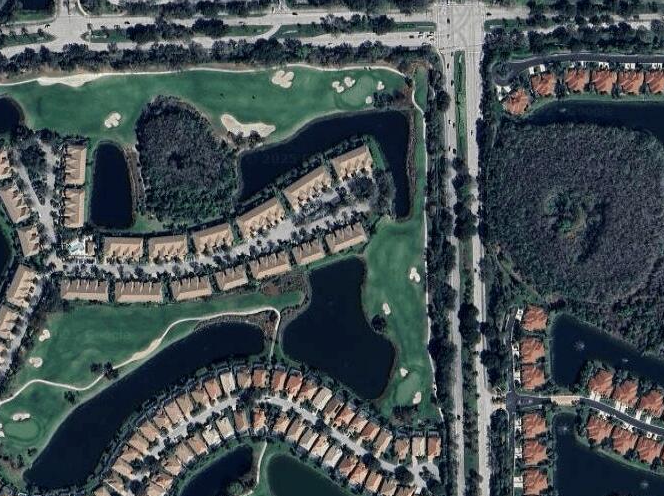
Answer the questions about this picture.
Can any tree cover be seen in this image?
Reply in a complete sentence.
Yes, some tree cover is visible.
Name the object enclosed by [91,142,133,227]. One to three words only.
pond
